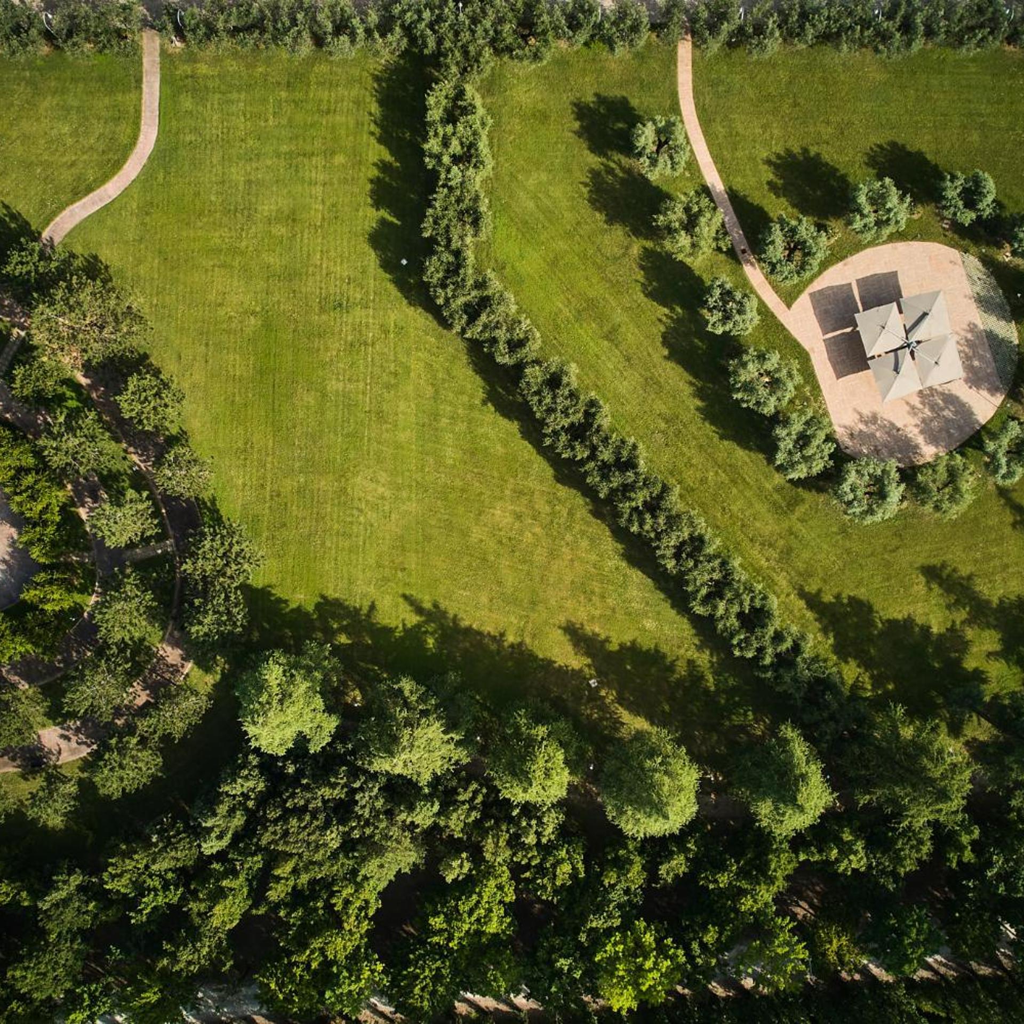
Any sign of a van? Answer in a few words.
No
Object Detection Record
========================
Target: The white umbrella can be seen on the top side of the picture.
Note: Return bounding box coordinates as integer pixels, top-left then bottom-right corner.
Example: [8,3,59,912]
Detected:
[854,290,964,402]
